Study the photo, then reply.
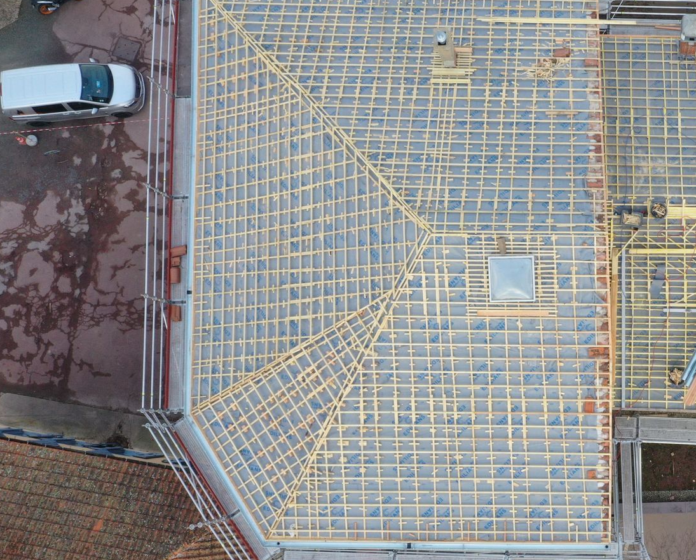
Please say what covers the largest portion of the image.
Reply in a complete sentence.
The largest share of the image is taken up by buildings.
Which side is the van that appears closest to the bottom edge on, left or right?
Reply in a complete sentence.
The van that appears closest to the bottom edge sits on the left side.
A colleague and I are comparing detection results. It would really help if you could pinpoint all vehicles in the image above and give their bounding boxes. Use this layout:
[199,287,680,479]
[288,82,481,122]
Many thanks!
[30,0,67,15]
[0,57,155,127]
